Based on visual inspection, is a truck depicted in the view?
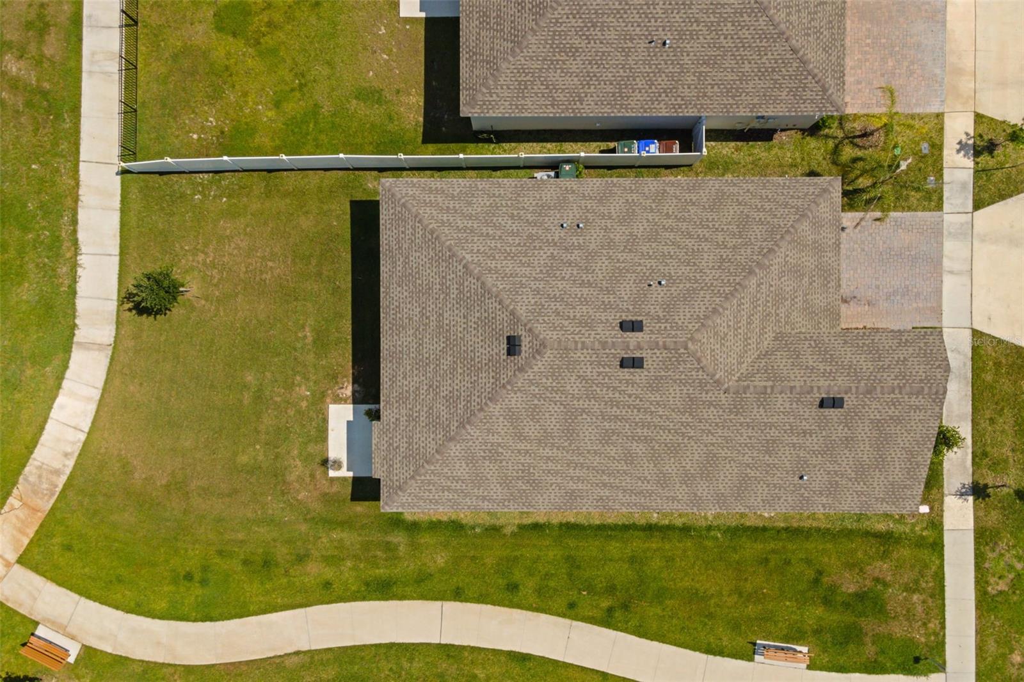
No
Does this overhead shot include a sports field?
No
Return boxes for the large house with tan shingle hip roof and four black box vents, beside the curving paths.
[372,177,950,512]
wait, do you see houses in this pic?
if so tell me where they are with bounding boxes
[372,177,950,512]
[460,0,845,136]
